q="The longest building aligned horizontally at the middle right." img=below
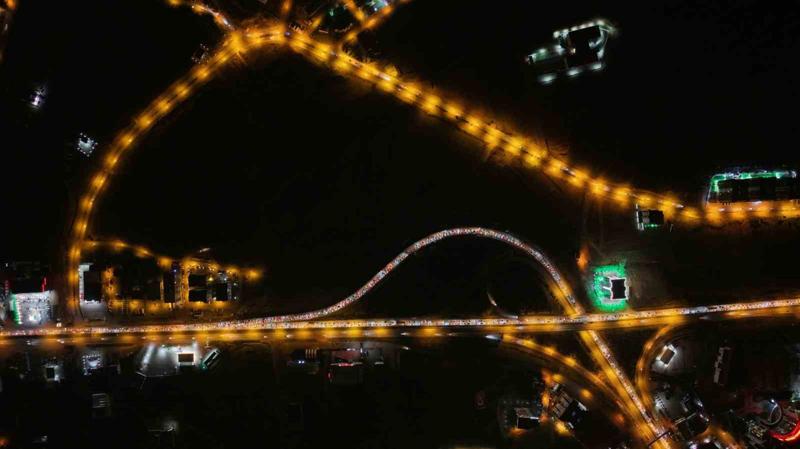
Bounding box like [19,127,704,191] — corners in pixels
[714,177,798,202]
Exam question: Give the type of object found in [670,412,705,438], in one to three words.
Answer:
building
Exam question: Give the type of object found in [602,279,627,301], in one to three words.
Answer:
building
